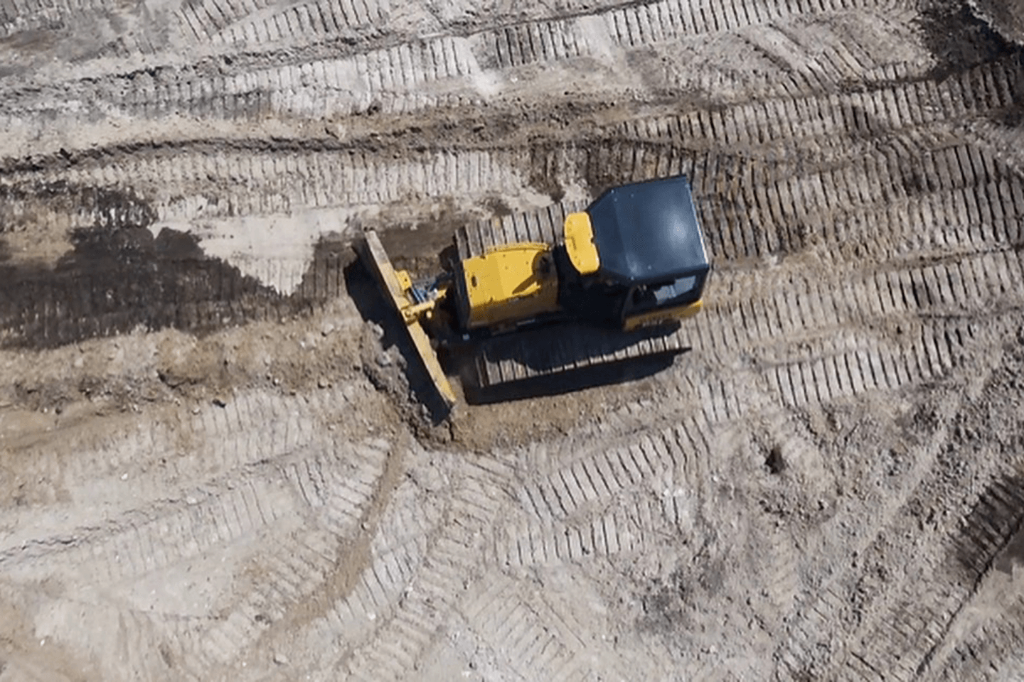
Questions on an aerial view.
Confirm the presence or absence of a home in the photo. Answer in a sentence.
No, the photo shows no home.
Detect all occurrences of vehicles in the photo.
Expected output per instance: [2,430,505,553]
[364,176,713,418]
